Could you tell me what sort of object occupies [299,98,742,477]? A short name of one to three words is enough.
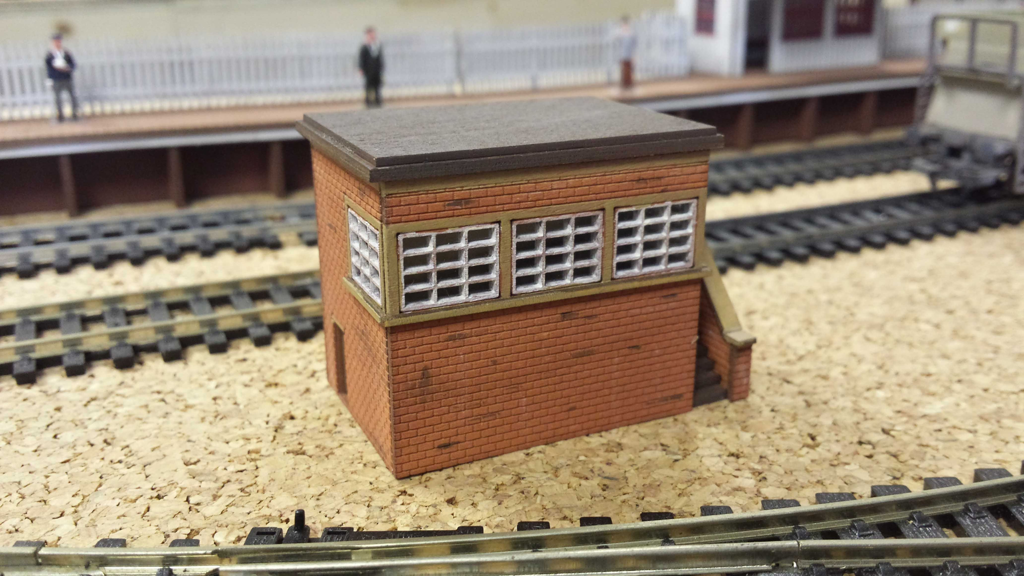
building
